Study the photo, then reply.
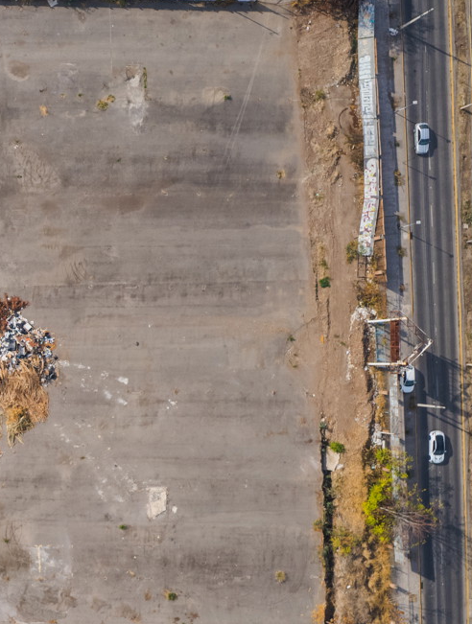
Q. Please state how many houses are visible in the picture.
0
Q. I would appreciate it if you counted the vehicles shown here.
3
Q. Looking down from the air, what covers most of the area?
paved ground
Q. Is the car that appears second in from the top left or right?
right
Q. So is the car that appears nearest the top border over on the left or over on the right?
right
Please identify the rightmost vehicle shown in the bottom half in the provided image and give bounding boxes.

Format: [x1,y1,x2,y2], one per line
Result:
[424,429,444,464]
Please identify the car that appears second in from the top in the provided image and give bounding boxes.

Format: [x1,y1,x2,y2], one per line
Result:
[395,364,416,395]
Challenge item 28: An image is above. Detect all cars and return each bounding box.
[424,429,444,464]
[410,121,430,158]
[395,364,416,395]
